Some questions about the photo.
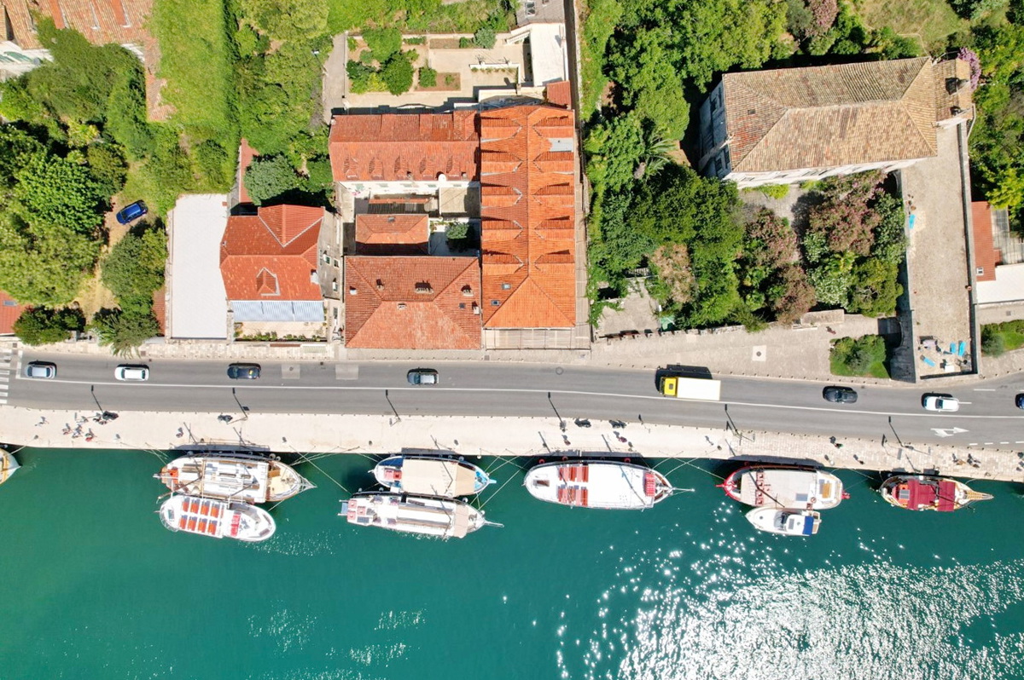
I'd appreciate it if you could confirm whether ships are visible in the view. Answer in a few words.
Yes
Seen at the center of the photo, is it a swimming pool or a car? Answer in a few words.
car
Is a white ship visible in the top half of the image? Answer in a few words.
No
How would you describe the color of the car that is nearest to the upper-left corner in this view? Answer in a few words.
blue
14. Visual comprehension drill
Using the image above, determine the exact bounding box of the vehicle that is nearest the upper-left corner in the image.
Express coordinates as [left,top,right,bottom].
[117,201,149,224]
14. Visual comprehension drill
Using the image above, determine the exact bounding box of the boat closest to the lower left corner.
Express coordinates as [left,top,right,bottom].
[0,443,32,482]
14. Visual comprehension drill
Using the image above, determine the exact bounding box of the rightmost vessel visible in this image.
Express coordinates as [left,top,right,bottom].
[874,472,994,514]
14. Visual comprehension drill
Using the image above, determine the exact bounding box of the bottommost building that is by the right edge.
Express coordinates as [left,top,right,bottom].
[978,265,1024,305]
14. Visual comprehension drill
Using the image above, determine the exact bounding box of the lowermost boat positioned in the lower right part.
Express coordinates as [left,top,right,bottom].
[743,507,822,535]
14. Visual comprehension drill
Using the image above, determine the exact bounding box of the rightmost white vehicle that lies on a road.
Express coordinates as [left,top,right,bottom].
[920,395,958,412]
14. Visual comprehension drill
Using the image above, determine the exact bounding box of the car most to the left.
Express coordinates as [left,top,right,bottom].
[27,362,58,378]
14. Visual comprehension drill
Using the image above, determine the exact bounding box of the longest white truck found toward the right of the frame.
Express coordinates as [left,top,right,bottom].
[660,377,724,400]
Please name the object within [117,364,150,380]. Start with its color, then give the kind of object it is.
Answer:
white car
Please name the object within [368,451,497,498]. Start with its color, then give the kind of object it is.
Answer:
white boat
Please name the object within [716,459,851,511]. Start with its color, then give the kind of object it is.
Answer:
white boat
